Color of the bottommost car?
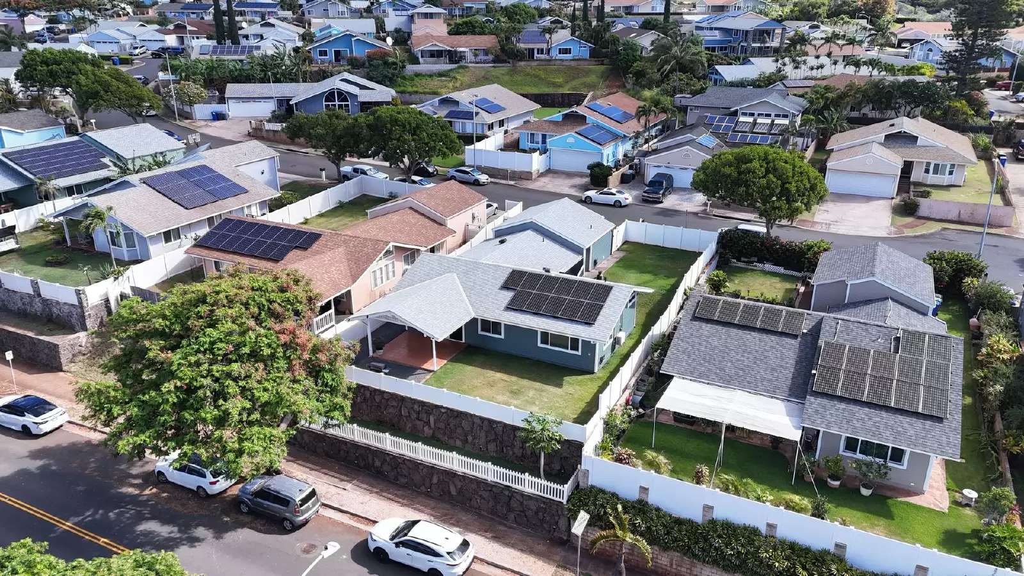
white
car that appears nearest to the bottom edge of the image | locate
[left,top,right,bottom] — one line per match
[365,515,477,576]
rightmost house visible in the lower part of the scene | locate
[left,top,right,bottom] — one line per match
[658,240,965,498]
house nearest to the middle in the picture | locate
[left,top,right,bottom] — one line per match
[344,197,661,374]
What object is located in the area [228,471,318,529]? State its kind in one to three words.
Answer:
car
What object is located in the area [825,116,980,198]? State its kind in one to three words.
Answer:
house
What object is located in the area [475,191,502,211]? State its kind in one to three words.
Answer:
car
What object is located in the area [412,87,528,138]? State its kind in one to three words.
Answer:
house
